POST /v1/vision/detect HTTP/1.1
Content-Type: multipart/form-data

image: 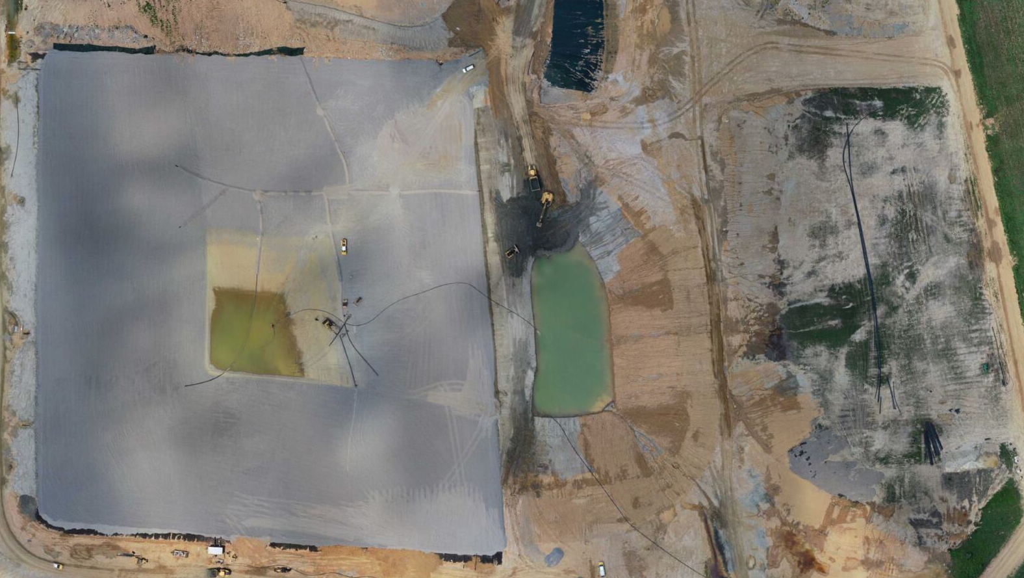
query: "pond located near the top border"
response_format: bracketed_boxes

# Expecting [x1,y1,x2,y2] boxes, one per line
[544,0,606,92]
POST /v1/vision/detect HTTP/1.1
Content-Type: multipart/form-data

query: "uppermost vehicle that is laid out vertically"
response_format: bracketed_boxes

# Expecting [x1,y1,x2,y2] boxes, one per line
[528,167,540,191]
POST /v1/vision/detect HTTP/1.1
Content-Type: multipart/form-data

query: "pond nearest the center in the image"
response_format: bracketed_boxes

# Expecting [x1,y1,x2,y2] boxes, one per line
[531,243,615,418]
